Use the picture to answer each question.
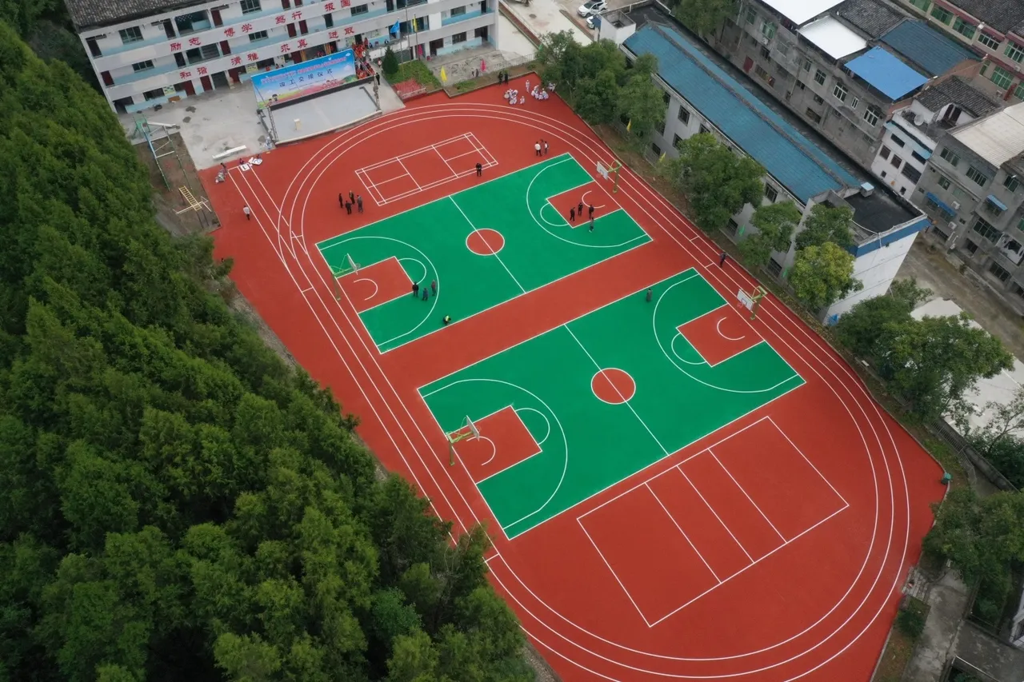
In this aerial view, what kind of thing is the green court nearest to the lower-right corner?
basketball court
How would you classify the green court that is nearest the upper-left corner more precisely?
basketball court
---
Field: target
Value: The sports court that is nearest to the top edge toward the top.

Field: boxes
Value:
[355,132,498,205]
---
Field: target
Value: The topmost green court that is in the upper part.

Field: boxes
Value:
[315,152,653,354]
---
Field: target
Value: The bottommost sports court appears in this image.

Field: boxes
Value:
[578,416,849,627]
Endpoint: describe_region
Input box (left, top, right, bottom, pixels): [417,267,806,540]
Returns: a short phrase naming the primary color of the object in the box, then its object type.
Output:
green basketball court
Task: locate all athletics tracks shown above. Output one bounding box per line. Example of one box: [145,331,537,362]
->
[198,73,945,682]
